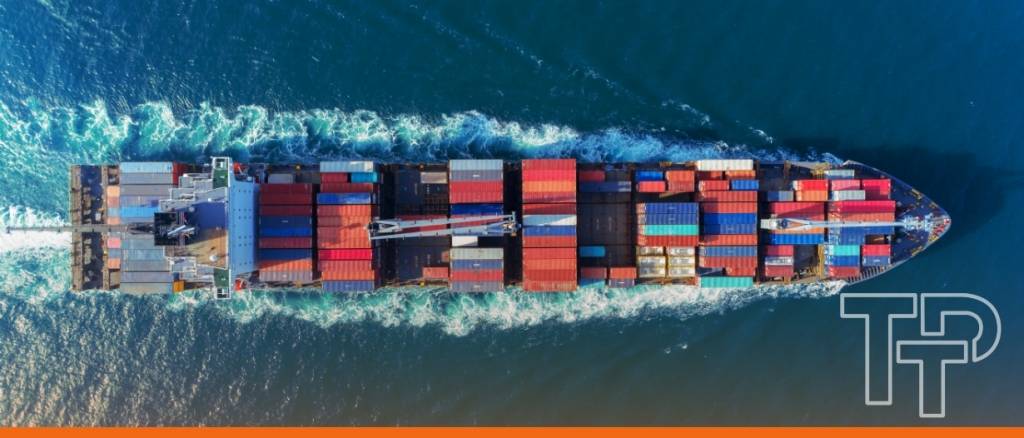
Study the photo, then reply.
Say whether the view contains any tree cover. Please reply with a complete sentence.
No, tree cover can't be seen anywhere here.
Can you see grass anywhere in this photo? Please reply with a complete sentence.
No, the scene doesn't show any grass.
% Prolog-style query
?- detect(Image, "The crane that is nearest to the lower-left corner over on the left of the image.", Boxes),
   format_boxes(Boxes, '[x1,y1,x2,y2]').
[7,223,156,236]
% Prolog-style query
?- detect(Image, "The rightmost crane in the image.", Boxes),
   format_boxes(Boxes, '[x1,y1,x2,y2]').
[757,215,900,235]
